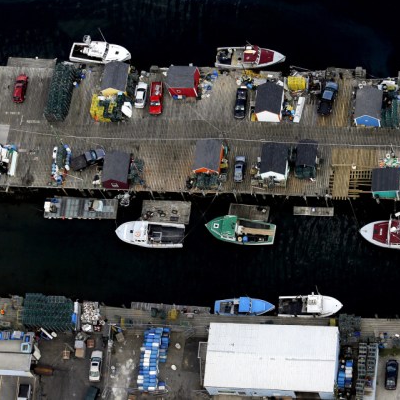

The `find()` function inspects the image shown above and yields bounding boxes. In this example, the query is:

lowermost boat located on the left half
[115,218,187,248]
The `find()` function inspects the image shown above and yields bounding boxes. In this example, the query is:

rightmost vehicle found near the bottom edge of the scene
[384,359,399,391]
